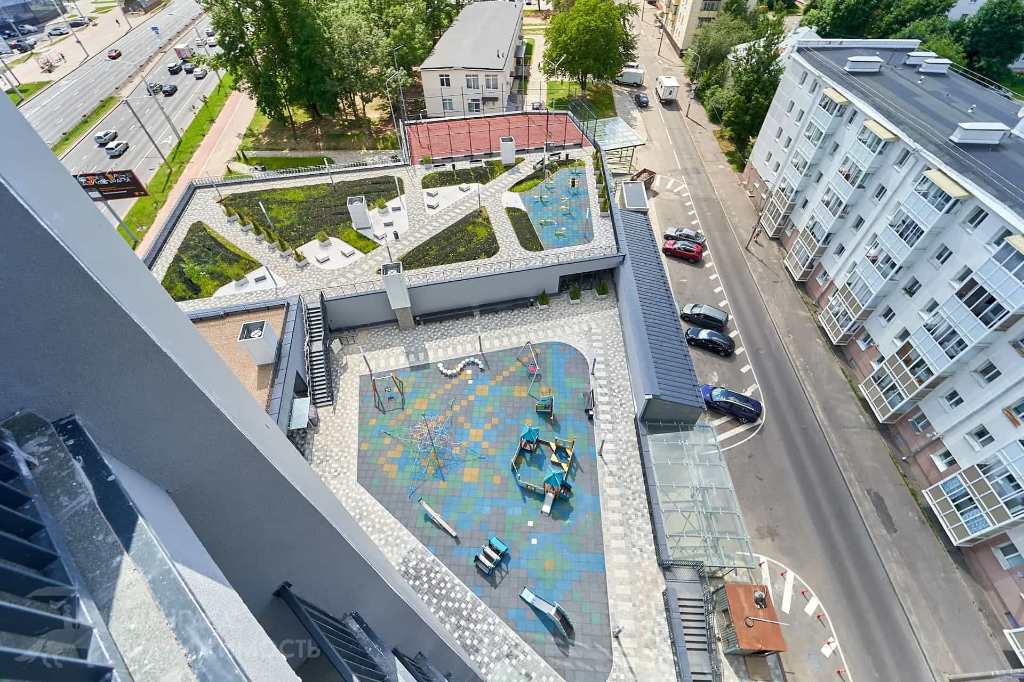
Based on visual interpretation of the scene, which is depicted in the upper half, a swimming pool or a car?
car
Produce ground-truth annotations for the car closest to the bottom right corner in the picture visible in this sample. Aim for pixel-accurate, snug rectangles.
[701,384,765,424]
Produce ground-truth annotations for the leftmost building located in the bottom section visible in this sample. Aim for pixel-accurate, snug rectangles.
[0,170,480,682]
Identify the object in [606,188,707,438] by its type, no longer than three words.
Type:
shed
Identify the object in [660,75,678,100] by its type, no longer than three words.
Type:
vehicle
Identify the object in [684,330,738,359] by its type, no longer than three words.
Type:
car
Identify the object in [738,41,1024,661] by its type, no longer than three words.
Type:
building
